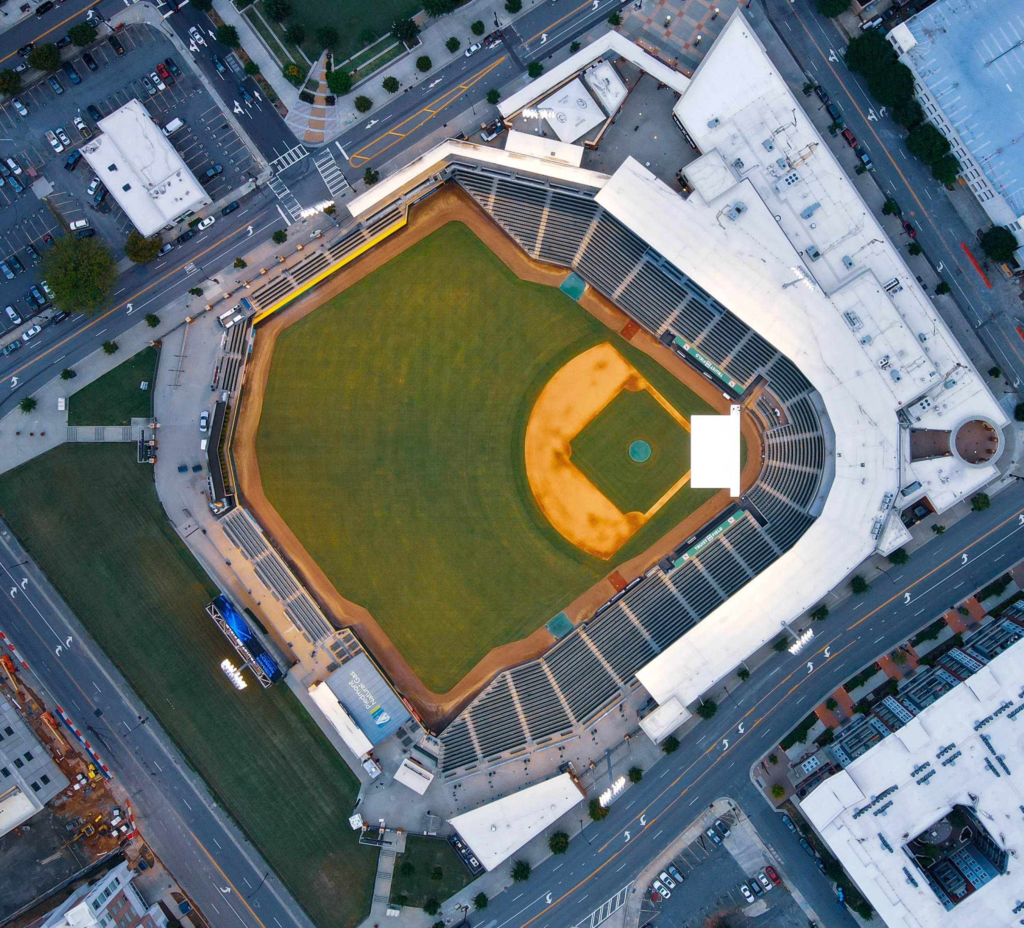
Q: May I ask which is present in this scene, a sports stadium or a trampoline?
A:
sports stadium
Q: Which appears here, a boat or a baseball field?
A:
baseball field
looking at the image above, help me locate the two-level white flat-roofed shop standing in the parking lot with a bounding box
[79,97,211,237]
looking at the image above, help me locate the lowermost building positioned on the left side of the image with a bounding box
[29,854,150,928]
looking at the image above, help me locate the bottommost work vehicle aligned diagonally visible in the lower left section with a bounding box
[60,824,96,851]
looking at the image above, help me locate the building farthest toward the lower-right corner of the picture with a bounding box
[781,600,1024,928]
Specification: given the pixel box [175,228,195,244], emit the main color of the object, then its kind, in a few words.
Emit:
black car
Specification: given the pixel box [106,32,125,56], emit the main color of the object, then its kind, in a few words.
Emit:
black vehicle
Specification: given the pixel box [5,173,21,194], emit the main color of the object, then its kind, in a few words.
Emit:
blue car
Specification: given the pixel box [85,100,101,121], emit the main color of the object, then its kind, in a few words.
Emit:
black car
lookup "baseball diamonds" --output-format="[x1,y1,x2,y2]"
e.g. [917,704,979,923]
[233,173,764,739]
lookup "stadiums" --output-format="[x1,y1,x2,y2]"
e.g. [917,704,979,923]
[206,6,1012,872]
